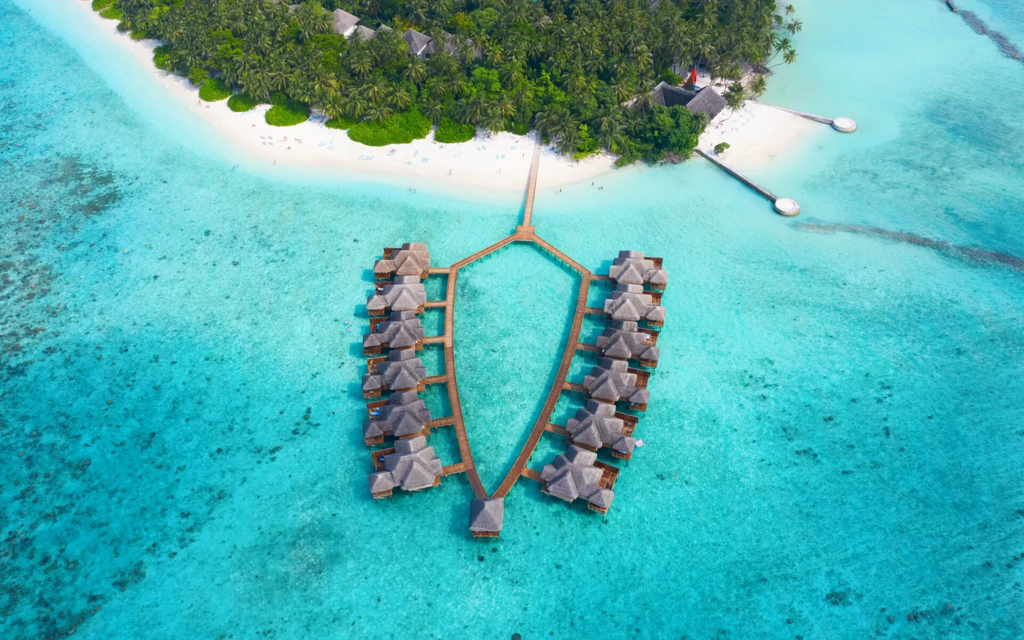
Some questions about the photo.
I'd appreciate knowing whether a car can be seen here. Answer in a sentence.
No, there isn't any car down there.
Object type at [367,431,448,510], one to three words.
house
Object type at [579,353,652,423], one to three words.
house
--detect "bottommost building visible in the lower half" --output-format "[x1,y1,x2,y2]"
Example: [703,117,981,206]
[469,498,504,549]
